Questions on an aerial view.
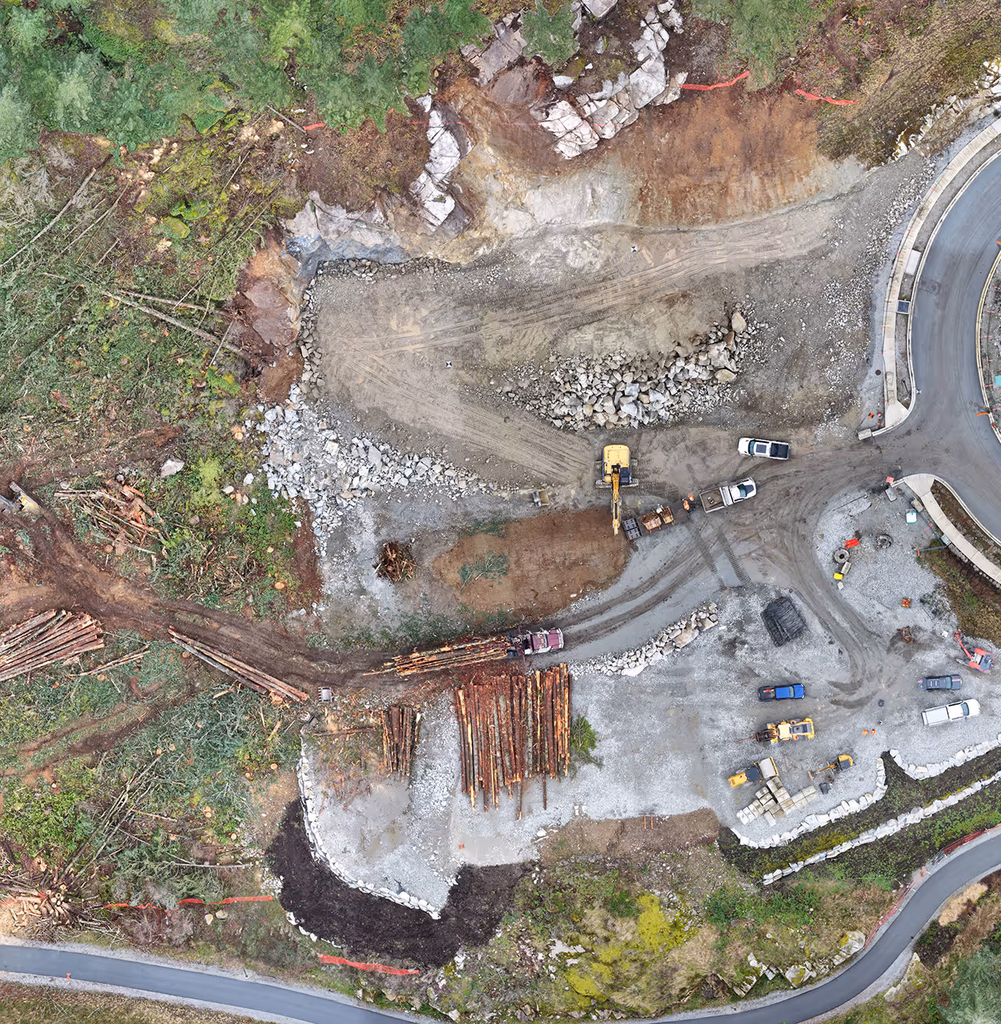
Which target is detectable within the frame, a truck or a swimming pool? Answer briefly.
truck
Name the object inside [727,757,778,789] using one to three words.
work vehicle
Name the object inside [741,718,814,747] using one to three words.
work vehicle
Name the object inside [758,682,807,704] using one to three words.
truck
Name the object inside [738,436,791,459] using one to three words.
truck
